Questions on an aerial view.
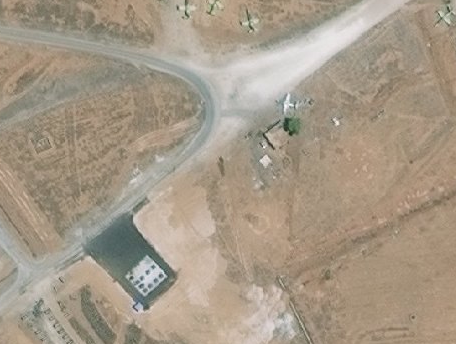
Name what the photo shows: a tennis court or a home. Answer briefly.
home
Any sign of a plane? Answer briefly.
Yes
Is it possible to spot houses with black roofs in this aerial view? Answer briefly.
No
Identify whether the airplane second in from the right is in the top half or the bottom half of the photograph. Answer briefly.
top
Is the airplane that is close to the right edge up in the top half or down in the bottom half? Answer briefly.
top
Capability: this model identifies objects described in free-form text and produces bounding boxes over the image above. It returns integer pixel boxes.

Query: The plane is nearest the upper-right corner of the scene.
[435,7,455,27]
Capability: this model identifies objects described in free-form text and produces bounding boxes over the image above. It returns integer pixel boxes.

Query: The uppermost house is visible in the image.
[265,124,289,149]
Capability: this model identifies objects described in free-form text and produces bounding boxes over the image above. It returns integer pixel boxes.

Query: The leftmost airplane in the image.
[177,0,196,17]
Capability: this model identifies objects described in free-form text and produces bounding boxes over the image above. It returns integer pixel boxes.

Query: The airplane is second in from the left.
[205,0,225,14]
